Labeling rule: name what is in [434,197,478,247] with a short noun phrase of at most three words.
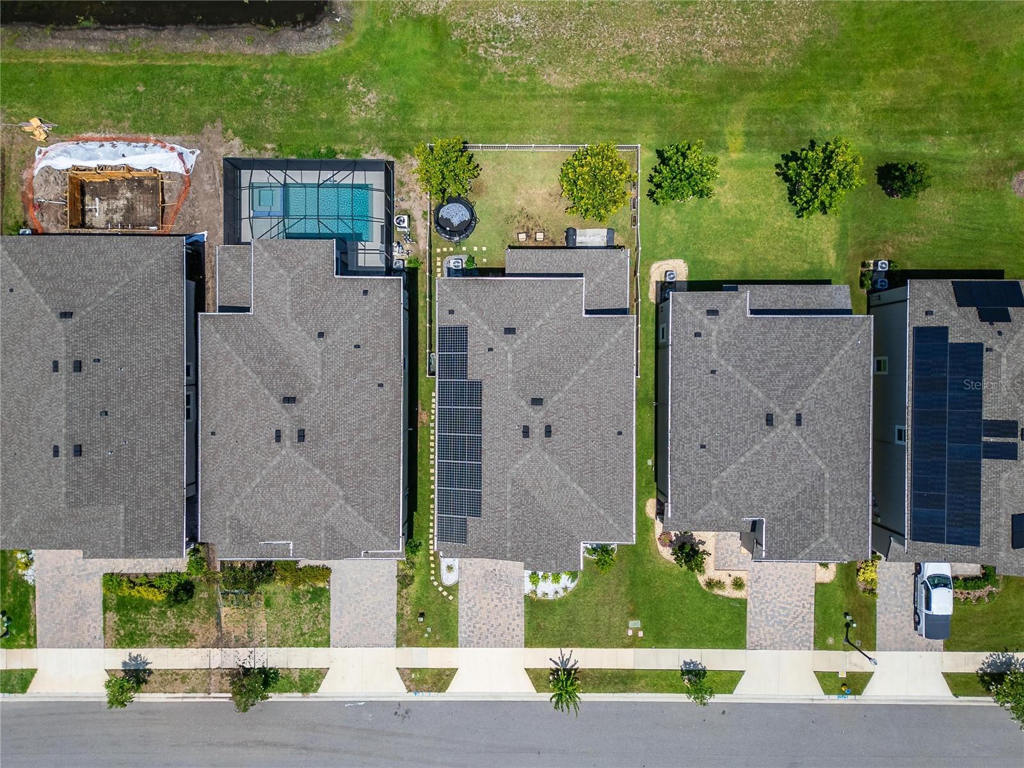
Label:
trampoline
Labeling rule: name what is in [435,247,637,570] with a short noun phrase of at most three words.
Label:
house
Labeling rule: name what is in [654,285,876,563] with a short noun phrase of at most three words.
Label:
house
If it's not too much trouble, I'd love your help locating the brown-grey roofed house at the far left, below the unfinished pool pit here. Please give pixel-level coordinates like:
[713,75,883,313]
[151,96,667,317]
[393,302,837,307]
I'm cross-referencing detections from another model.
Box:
[0,233,215,559]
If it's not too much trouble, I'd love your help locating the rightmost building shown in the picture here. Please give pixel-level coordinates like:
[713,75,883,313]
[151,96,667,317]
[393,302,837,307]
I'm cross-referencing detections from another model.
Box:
[869,278,1024,571]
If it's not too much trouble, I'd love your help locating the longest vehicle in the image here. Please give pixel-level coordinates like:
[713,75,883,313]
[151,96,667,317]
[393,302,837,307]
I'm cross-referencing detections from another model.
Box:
[913,561,954,638]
